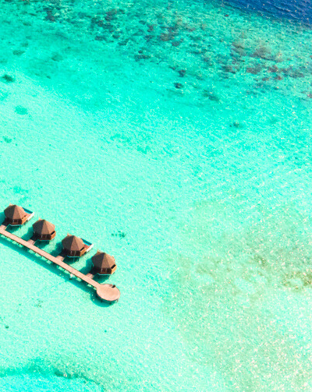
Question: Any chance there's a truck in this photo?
No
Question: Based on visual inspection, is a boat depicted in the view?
No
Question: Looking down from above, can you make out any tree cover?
No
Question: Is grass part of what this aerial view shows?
No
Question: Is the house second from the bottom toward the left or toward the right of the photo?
left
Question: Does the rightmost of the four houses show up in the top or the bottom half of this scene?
bottom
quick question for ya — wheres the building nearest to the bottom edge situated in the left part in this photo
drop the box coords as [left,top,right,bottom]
[88,250,118,274]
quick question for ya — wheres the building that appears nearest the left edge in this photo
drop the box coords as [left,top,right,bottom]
[1,205,29,226]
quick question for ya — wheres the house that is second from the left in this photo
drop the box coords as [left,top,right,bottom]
[30,218,57,241]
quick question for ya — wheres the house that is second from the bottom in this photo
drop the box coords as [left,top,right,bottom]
[58,234,87,258]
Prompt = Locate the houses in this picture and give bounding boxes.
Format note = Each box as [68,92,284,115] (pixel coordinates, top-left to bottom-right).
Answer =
[1,205,29,226]
[30,218,57,241]
[58,234,87,258]
[88,250,118,274]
